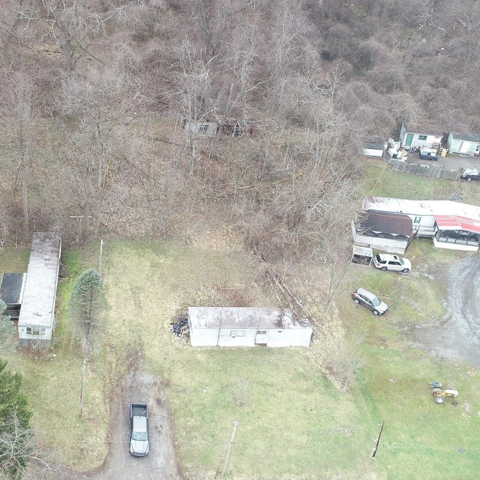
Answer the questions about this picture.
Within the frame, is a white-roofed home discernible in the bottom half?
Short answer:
Yes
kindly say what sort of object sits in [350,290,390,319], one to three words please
car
